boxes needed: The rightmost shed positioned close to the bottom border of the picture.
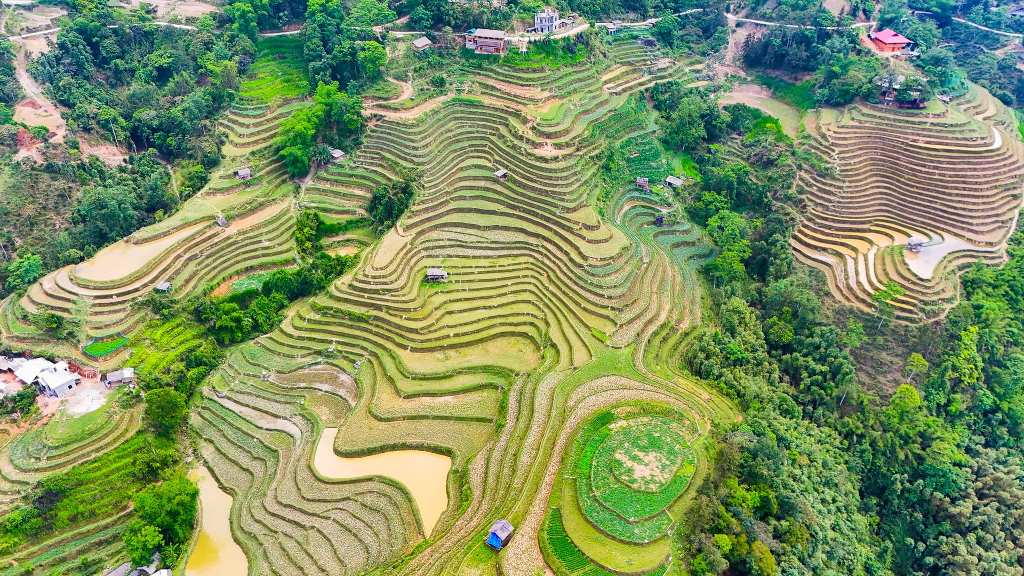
[483,523,512,552]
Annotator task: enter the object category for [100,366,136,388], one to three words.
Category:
shed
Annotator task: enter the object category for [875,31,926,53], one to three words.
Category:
house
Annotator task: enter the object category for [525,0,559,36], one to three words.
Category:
house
